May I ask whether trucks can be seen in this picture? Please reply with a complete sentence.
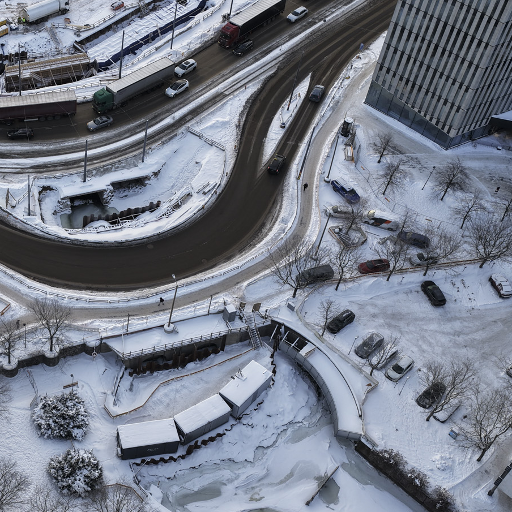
Yes, the photo shows a truck.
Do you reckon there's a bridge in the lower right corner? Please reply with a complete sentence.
No, the scene shows no bridge in the lower right corner.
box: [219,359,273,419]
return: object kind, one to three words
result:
shed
